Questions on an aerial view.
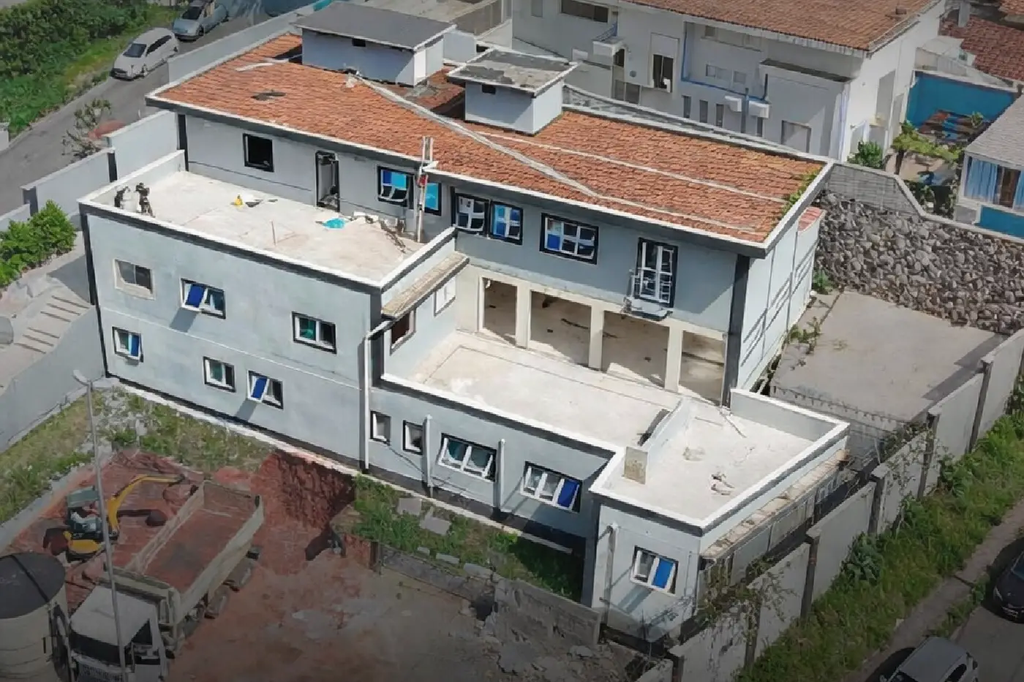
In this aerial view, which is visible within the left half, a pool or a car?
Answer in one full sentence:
You can see a car within the left half.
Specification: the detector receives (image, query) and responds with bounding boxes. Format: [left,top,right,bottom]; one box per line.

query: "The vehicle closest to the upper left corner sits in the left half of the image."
[105,26,180,84]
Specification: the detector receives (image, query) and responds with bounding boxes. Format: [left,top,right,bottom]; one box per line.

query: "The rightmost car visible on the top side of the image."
[166,0,234,44]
